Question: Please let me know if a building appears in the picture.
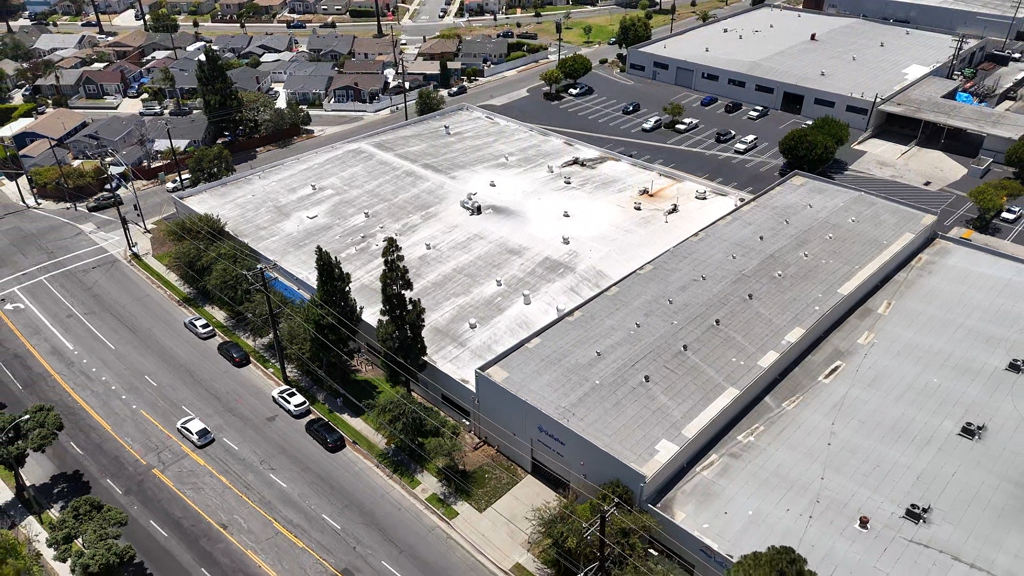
Yes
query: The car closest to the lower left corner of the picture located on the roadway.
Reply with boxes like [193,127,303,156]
[178,417,213,450]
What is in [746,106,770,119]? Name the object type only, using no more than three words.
vehicle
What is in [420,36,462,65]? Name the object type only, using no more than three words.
house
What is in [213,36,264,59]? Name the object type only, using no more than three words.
house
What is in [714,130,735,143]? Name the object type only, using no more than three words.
vehicle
